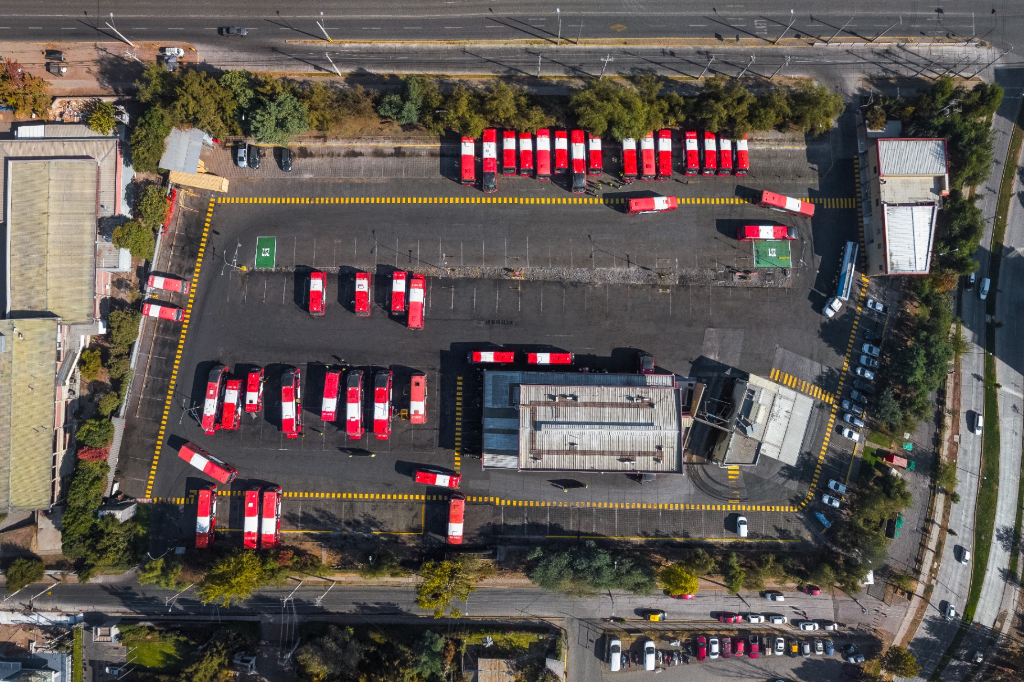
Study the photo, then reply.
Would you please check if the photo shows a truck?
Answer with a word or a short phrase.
Yes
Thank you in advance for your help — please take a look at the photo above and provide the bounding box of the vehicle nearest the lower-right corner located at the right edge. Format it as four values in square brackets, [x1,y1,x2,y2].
[968,647,986,666]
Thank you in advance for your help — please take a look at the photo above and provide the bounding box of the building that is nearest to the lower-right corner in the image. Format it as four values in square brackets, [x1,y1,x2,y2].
[715,373,817,467]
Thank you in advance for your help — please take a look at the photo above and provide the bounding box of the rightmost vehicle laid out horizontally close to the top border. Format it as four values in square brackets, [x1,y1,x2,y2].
[222,25,249,38]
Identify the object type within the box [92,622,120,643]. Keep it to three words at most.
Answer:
house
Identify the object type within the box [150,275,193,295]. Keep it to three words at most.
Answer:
bus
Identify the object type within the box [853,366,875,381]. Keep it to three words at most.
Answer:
car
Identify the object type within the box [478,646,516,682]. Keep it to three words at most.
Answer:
house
